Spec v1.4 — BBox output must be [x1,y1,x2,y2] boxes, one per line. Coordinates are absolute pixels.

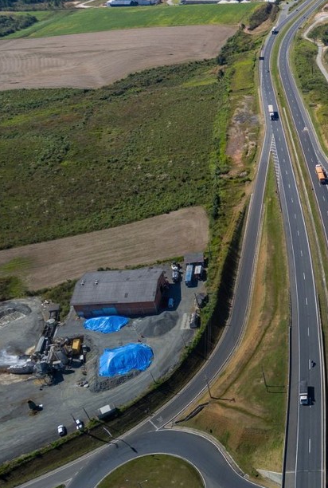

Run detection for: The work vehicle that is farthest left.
[23,398,42,411]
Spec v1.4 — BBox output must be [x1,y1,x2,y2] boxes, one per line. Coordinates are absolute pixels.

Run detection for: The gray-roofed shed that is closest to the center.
[180,251,207,266]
